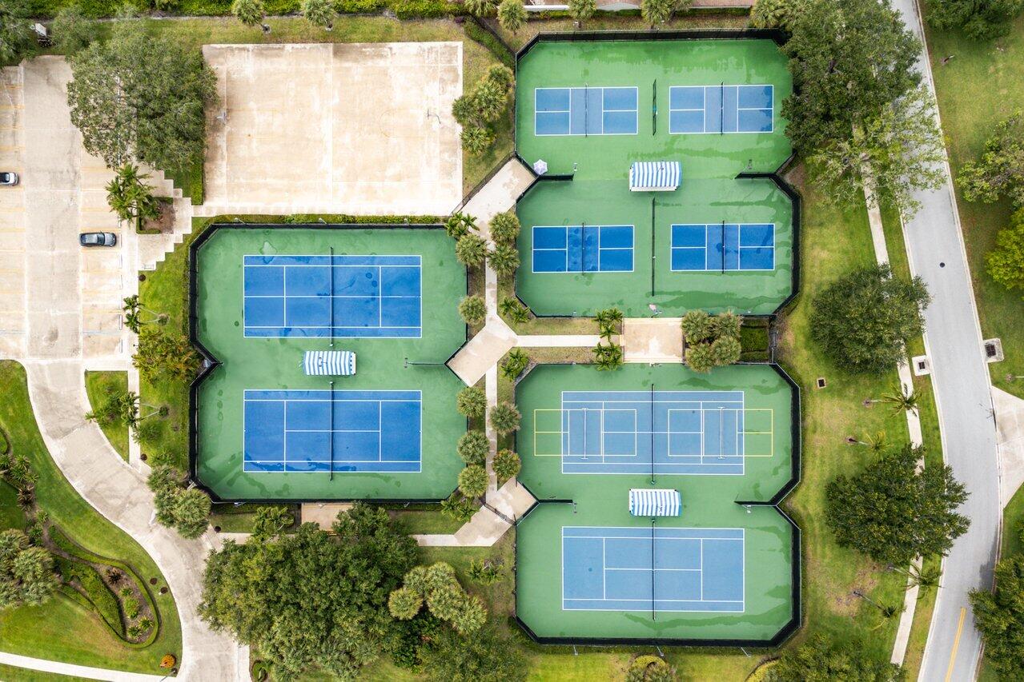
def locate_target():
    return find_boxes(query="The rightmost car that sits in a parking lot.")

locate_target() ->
[79,230,118,248]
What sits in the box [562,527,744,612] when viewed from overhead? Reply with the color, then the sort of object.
blue tennis court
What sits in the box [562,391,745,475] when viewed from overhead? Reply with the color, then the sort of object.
blue tennis court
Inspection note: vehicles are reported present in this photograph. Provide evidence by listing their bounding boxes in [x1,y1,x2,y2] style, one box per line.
[79,230,118,248]
[0,170,20,186]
